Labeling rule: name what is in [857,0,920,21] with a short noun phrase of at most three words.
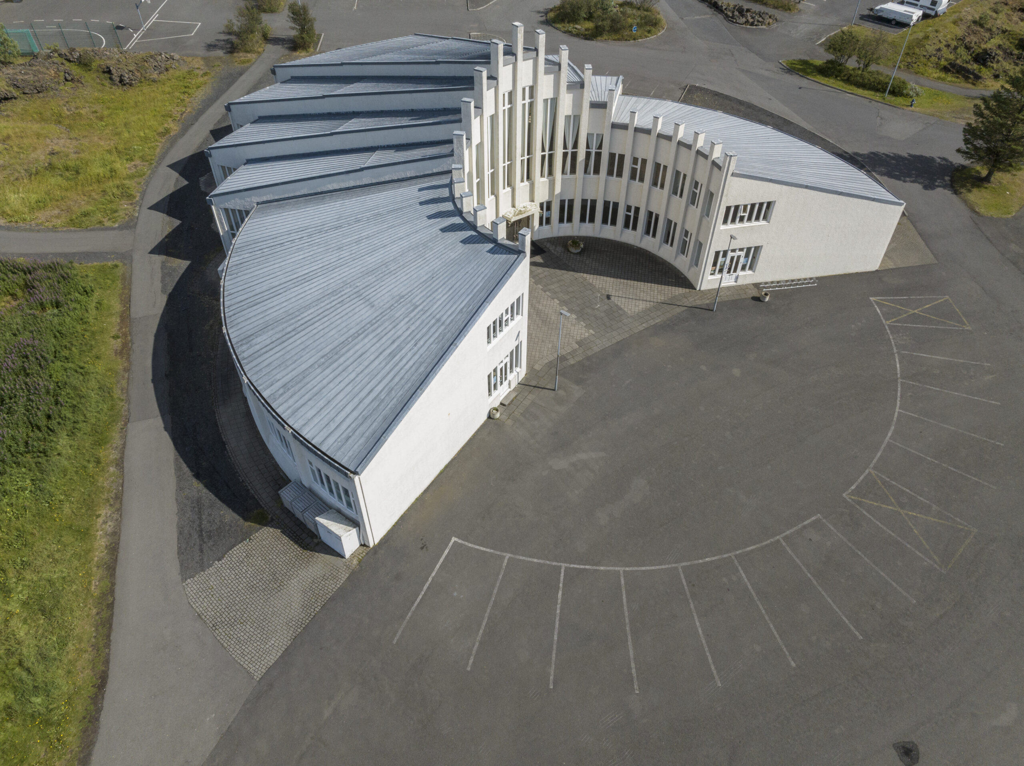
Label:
trailer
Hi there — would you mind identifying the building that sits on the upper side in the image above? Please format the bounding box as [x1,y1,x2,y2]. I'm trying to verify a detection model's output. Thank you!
[206,21,907,545]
